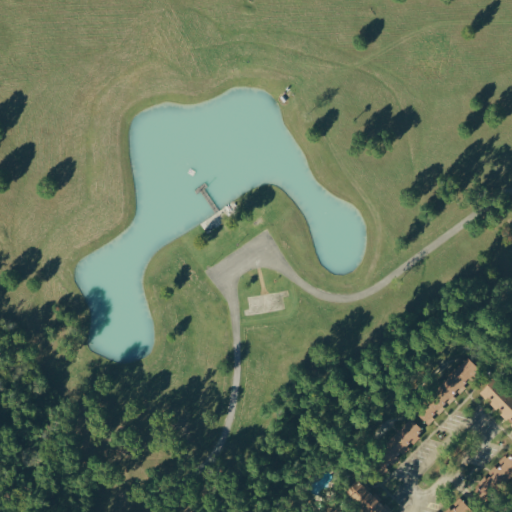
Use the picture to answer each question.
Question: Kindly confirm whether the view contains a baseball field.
No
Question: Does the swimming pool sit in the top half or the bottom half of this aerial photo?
bottom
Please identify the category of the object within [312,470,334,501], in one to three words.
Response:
swimming pool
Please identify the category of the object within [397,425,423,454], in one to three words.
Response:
building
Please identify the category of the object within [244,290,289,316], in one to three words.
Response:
sports court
